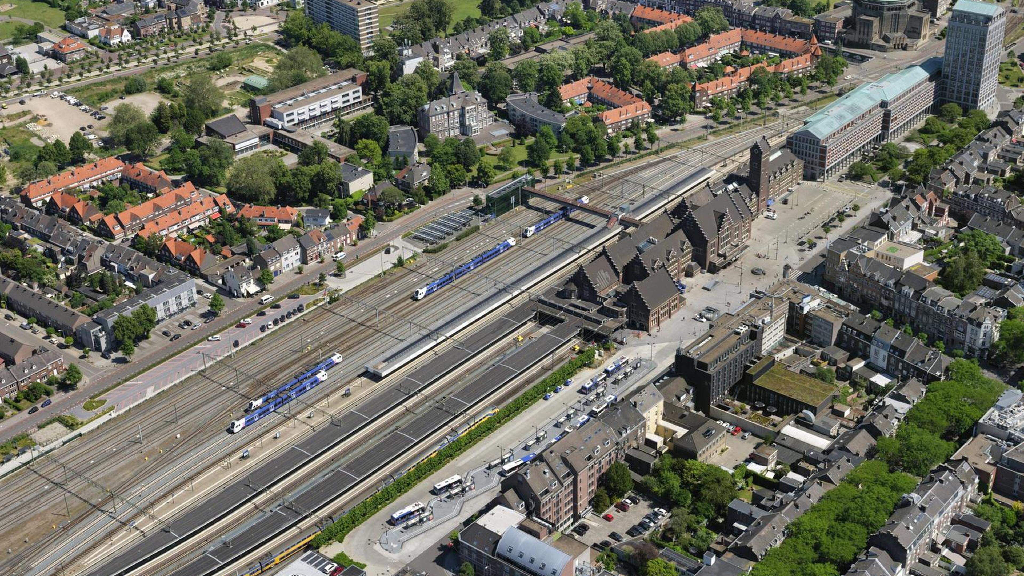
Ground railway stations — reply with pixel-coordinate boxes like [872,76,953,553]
[556,136,809,332]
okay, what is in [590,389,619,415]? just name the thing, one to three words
bus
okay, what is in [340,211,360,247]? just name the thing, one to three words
house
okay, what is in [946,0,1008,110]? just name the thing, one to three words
building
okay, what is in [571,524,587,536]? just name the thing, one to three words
vehicle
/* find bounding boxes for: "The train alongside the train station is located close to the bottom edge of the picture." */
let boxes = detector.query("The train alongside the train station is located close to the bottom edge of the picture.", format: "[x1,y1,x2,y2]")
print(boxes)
[240,412,500,576]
